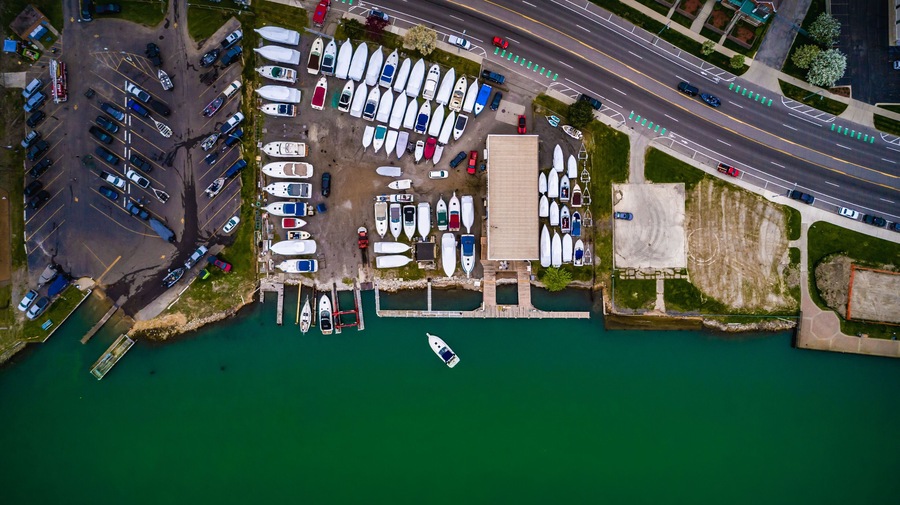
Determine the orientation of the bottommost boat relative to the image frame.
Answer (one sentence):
What the image shows is the bottommost boat lying on a diagonal.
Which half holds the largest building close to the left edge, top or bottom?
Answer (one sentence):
The largest building close to the left edge sits in the top half of the picture.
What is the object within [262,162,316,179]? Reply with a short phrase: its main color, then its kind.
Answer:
white boat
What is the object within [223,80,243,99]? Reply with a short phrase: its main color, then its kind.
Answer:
white car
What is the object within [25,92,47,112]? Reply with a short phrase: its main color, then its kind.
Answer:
blue vehicle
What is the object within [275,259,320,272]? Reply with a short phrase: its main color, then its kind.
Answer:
white boat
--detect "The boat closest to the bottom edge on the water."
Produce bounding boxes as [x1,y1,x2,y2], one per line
[426,333,460,367]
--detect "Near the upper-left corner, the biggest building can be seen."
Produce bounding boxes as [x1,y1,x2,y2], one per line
[9,5,57,43]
